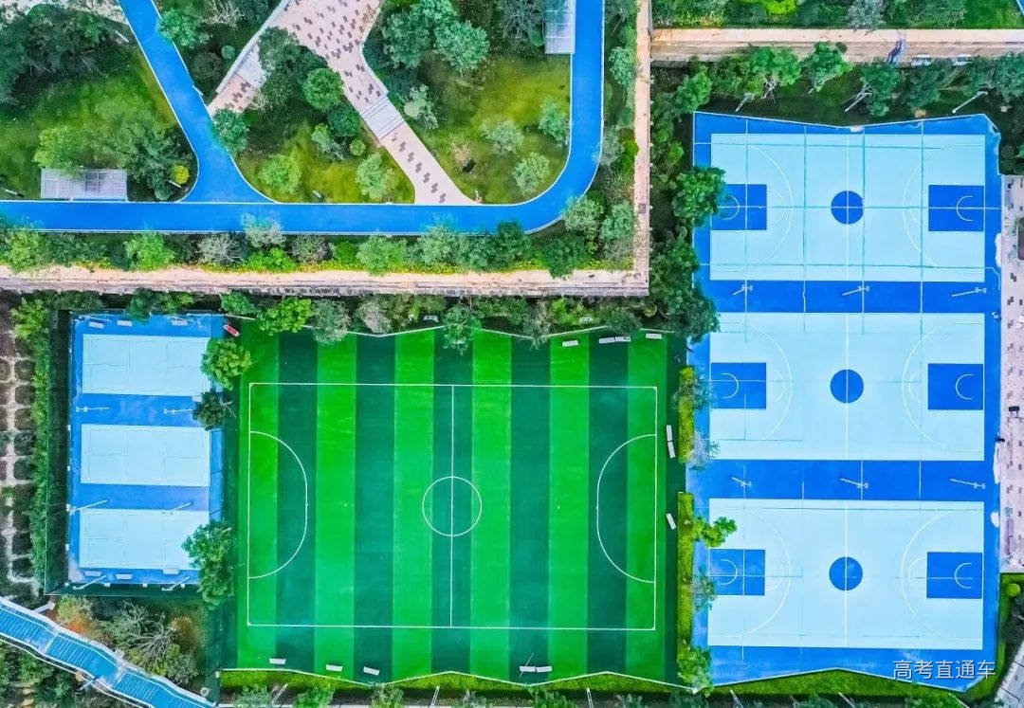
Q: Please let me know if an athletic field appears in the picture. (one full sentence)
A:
Yes, an athletic field appears in the view.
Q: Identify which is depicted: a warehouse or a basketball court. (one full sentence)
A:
It is a basketball court that can be seen here.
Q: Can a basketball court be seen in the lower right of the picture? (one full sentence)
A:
Yes, the scene does show a basketball court in the lower right of the picture.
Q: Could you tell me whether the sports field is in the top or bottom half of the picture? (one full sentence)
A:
The sports field is in the bottom half of the image.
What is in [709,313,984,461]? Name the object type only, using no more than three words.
basketball court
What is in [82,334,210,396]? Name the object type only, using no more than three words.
sports court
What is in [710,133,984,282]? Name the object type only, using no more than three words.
basketball court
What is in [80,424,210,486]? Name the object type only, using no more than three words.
sports court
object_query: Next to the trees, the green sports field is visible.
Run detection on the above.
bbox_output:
[221,318,692,688]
